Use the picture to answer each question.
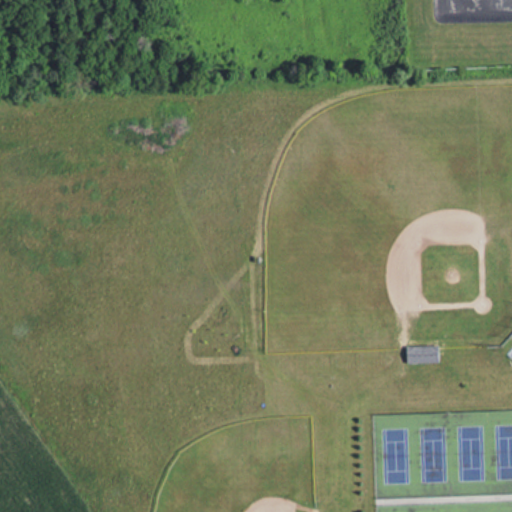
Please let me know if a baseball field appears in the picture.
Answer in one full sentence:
Yes, I can see a baseball field in this picture.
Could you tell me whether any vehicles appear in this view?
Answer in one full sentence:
No, this view has no vehicle in it.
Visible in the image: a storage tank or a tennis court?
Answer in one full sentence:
The image shows a tennis court.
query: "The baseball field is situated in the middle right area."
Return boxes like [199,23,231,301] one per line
[265,84,512,354]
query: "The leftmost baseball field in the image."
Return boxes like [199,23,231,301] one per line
[152,415,320,512]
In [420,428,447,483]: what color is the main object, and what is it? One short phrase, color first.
blue tennis court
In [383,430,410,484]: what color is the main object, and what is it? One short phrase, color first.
blue tennis court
